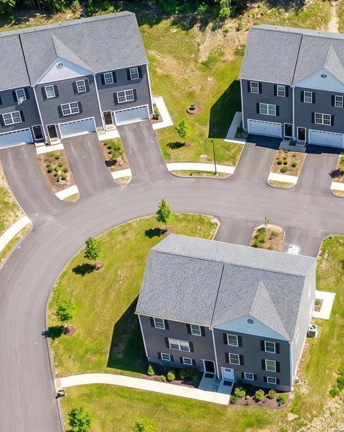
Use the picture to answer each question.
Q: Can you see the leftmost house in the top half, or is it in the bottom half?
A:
top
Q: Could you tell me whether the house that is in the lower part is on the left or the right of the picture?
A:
right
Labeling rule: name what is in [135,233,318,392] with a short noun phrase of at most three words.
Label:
house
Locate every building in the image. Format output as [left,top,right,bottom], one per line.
[240,24,344,149]
[135,233,318,392]
[0,11,153,149]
